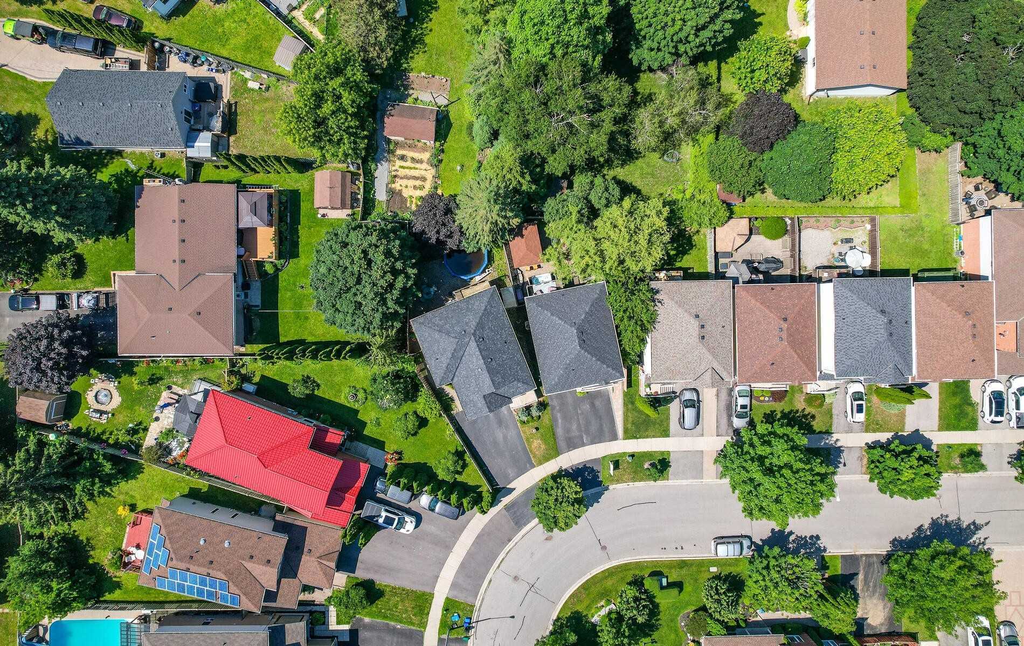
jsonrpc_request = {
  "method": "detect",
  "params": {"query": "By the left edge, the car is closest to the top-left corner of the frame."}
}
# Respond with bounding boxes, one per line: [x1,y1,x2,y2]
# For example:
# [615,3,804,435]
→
[4,18,46,43]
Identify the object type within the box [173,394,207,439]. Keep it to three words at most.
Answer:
gazebo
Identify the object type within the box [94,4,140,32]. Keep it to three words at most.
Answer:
car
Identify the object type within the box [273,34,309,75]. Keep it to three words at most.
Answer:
shed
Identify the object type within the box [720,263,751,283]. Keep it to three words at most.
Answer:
gazebo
